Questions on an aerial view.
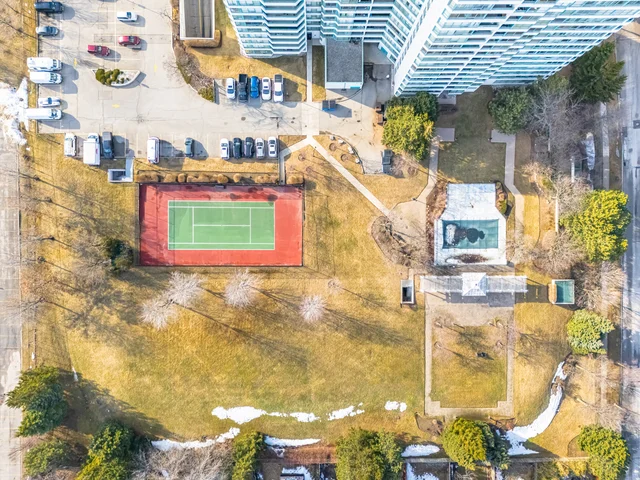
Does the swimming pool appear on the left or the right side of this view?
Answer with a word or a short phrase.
right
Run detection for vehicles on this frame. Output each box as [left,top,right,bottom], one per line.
[30,72,66,86]
[272,74,284,102]
[268,137,277,158]
[39,96,62,107]
[64,134,78,158]
[184,138,194,157]
[148,138,160,164]
[232,138,243,159]
[82,134,99,166]
[101,132,114,160]
[220,138,230,161]
[118,36,141,47]
[34,1,65,15]
[244,138,254,159]
[249,76,260,99]
[226,78,236,99]
[26,108,66,121]
[261,78,271,101]
[27,59,66,73]
[37,26,60,37]
[255,138,265,159]
[238,74,249,102]
[87,45,112,56]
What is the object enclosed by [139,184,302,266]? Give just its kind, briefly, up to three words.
tennis court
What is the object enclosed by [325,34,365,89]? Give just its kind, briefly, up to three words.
building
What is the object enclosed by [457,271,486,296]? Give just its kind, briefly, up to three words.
gazebo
